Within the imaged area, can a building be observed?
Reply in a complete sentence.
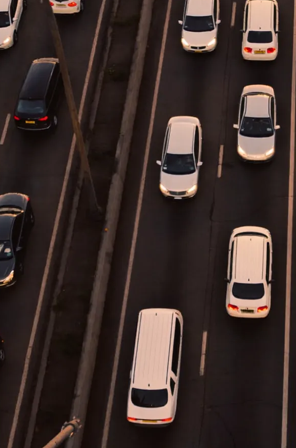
No, the frame has no building in it.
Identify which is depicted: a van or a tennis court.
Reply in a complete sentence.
This aerial view contains a van.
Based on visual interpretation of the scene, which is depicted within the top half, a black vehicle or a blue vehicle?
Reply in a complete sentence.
The one visible within the top half is a black vehicle.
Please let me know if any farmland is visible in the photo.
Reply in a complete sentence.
No, no farmland is visible.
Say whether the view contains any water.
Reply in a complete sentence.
No, the picture contains no water.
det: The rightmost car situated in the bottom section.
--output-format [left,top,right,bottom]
[222,229,275,319]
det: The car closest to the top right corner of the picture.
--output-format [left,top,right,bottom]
[238,0,281,61]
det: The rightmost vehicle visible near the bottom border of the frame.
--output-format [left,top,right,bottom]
[122,313,184,427]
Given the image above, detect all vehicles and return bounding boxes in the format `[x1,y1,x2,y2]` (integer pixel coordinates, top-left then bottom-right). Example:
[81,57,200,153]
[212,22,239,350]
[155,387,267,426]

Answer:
[238,0,281,61]
[222,229,275,319]
[233,87,279,163]
[0,0,27,50]
[0,195,32,287]
[156,120,203,199]
[178,0,220,52]
[48,0,84,14]
[9,61,63,130]
[122,313,184,427]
